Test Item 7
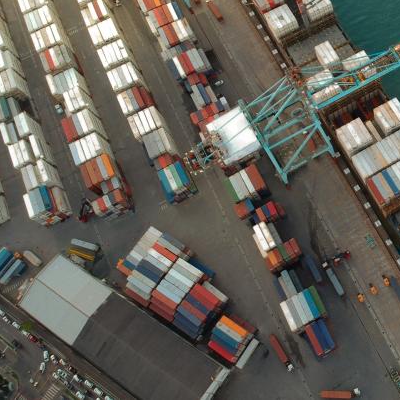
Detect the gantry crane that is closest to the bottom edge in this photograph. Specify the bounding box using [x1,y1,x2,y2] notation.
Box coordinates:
[177,44,400,188]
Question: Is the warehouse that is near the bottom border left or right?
left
